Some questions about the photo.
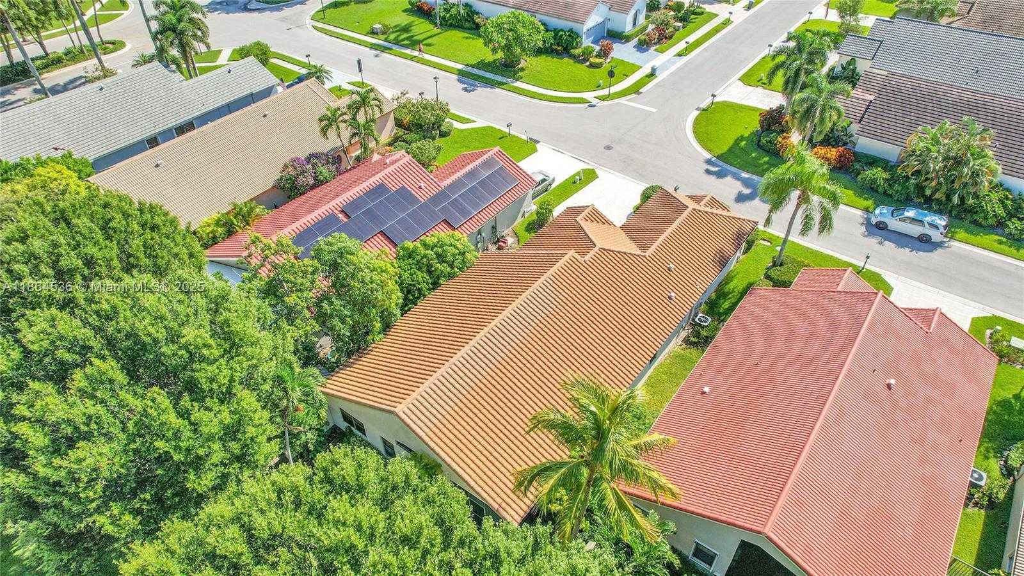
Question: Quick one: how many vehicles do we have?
2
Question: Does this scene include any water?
No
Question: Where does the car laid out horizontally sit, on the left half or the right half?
right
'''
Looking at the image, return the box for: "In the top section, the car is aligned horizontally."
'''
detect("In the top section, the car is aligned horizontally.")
[871,207,950,244]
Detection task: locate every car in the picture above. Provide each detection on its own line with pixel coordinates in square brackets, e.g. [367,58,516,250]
[528,175,562,210]
[871,207,950,244]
